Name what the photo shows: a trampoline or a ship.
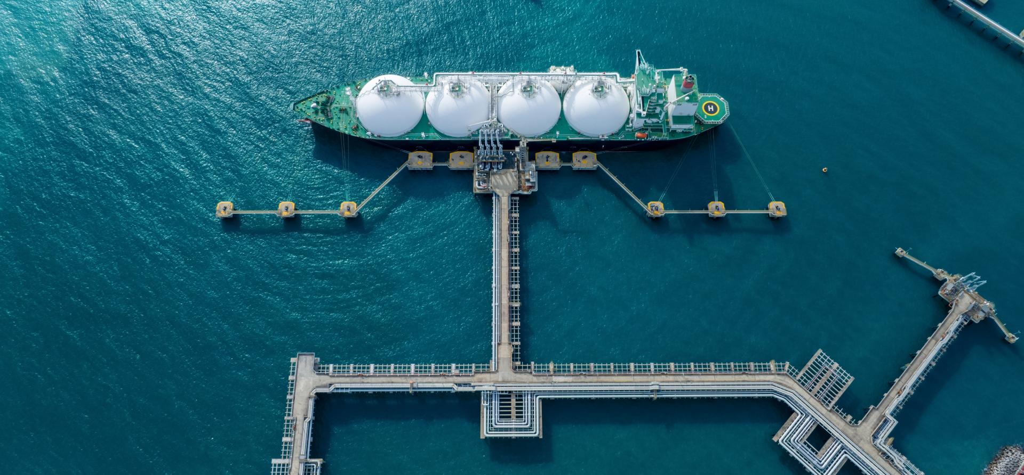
ship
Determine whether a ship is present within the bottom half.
No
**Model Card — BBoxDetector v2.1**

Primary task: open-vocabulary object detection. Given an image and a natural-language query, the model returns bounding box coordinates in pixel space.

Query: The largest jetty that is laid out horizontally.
[316,359,790,401]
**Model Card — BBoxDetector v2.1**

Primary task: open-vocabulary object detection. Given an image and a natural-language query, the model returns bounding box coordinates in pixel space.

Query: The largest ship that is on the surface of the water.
[289,50,730,150]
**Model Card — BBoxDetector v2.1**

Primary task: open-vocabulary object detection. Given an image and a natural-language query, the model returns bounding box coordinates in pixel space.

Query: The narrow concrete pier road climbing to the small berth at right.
[864,292,974,419]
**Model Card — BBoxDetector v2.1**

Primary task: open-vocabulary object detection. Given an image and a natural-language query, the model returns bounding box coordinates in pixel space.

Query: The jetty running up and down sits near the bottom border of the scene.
[269,352,326,475]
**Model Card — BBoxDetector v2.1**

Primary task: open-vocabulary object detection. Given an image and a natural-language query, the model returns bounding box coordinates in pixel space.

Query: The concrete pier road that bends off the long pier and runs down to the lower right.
[770,366,922,475]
